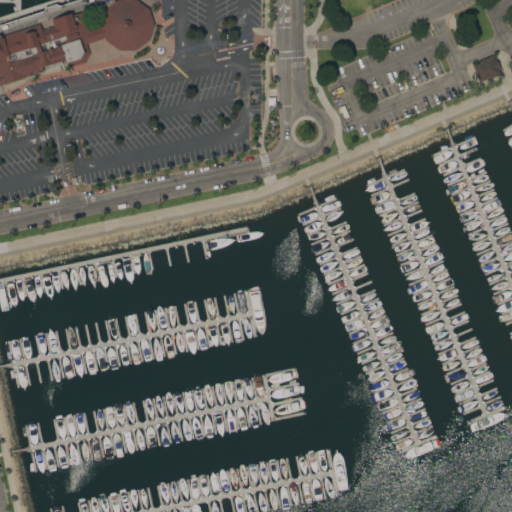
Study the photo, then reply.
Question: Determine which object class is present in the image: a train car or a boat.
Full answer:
The image shows a boat.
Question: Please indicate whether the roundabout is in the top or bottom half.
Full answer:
The roundabout sits in the top half of the picture.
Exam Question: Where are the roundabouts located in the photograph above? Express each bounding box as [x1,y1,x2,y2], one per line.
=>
[282,106,331,156]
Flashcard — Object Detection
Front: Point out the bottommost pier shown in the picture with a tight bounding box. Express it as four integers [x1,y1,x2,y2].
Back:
[48,449,338,512]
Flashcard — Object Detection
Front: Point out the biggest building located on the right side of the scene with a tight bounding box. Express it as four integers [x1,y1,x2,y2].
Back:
[474,54,504,87]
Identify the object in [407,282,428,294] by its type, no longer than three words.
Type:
boat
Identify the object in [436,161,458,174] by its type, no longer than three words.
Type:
boat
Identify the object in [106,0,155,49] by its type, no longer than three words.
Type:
building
